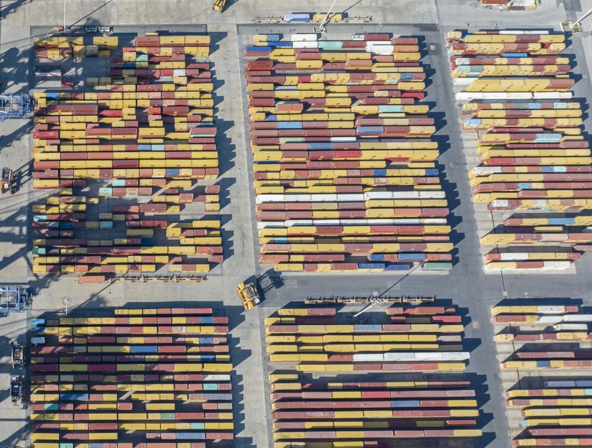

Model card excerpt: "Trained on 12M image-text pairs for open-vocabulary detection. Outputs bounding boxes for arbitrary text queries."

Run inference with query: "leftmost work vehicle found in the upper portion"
[0,164,15,192]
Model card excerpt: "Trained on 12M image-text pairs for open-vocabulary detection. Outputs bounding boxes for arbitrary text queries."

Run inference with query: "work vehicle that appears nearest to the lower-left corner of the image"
[11,376,24,407]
